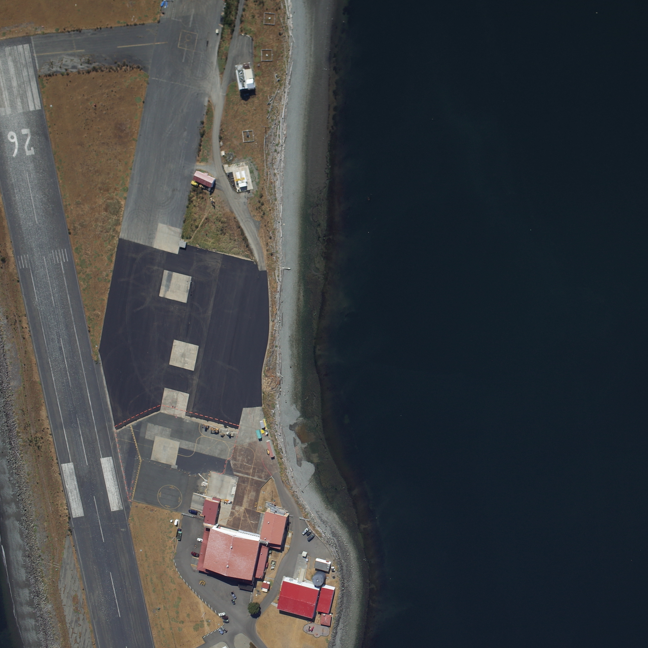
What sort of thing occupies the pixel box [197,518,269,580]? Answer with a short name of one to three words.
hangar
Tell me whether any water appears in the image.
Yes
